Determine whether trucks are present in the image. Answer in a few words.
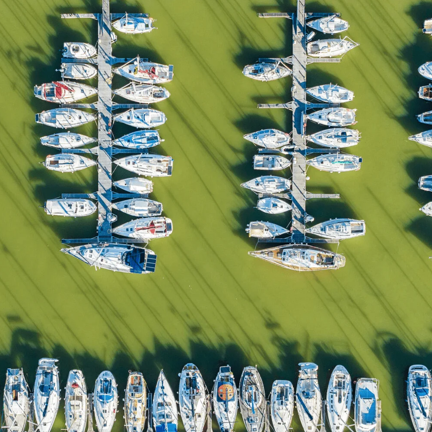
No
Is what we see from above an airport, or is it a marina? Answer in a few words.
marina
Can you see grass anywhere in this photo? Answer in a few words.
No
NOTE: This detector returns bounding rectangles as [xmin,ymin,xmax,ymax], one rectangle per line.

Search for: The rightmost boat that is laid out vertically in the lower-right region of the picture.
[401,366,432,432]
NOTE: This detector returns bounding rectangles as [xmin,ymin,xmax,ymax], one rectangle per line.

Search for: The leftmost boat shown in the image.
[0,370,30,432]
